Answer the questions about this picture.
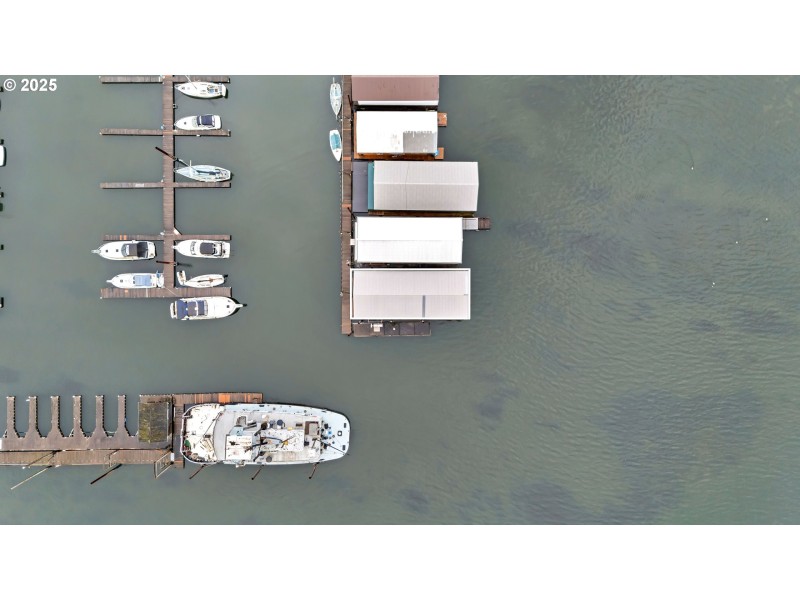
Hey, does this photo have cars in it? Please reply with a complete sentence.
No, no car is visible in the view.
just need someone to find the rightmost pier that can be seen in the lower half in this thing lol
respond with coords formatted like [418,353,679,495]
[138,394,264,466]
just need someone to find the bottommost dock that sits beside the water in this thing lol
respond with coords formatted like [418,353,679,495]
[0,448,173,468]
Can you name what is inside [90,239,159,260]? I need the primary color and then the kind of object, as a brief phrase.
white boat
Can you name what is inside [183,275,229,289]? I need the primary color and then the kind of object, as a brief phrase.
white boat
